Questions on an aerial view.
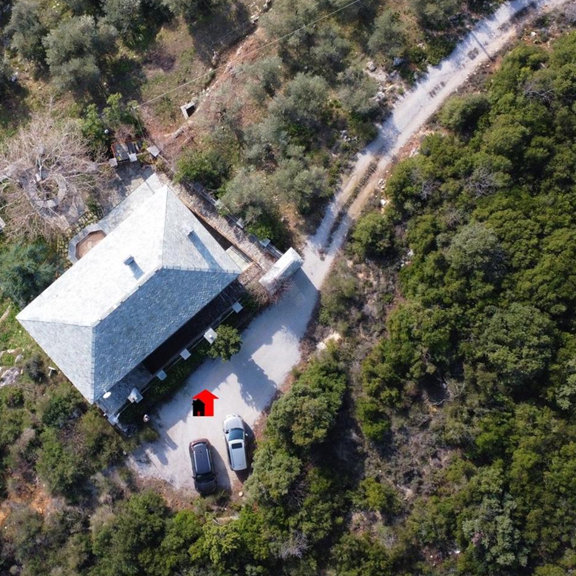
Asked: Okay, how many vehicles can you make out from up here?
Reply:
2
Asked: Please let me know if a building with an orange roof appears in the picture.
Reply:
No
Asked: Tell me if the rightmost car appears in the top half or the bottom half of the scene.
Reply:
bottom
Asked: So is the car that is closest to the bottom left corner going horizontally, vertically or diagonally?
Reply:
vertically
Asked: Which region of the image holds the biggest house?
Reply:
left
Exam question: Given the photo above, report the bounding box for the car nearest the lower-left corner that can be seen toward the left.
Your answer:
[190,439,218,494]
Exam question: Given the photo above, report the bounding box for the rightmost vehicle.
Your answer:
[223,412,251,474]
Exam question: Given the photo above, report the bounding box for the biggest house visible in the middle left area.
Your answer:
[15,184,242,404]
